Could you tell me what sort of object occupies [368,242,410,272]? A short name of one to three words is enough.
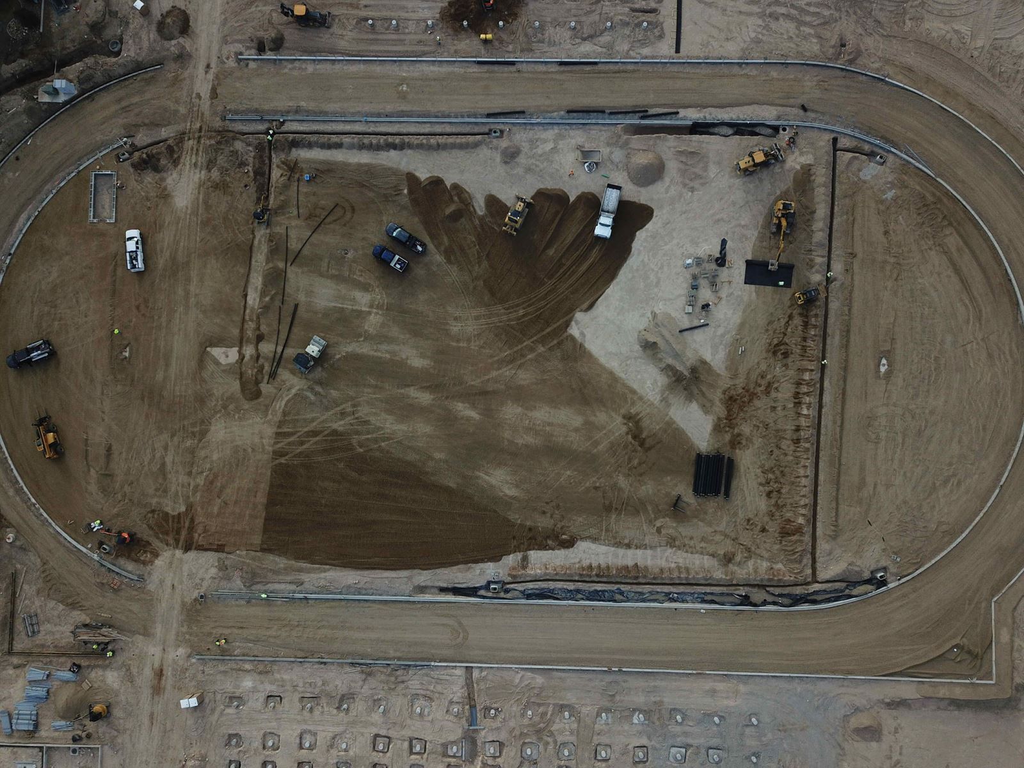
truck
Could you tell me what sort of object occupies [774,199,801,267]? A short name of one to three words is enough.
work vehicle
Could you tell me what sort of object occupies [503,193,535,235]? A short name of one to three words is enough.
work vehicle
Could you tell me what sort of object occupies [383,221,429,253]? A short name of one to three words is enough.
truck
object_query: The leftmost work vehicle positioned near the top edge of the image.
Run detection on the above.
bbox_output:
[276,0,331,29]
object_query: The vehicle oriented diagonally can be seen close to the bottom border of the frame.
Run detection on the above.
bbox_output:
[65,701,109,730]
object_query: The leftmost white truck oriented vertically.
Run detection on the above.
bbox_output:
[120,227,144,272]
